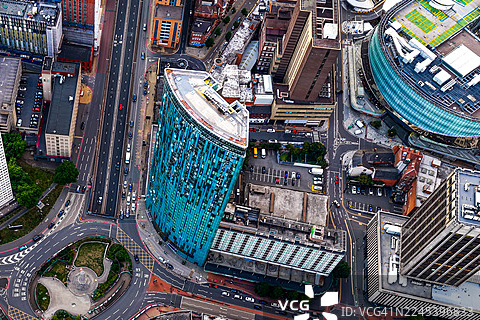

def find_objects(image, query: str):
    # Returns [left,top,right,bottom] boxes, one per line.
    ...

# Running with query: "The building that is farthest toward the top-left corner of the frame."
[0,0,63,62]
